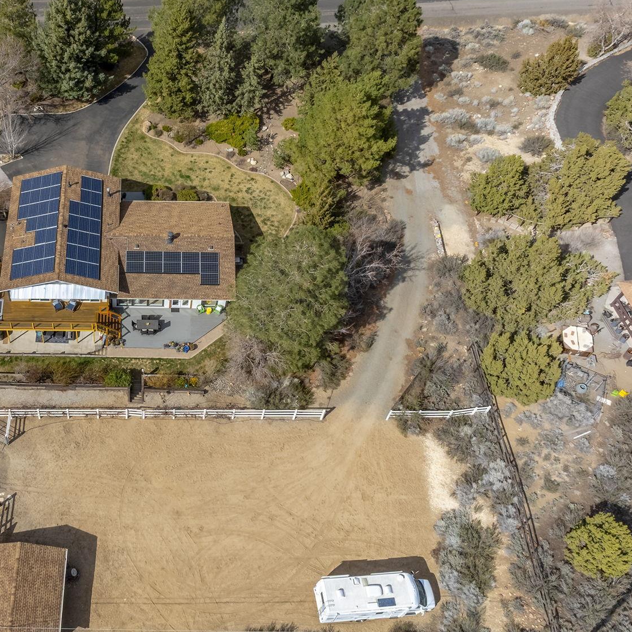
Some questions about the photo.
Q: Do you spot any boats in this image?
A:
No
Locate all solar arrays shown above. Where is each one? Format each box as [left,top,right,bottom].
[6,171,58,283]
[66,175,104,283]
[127,253,222,287]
